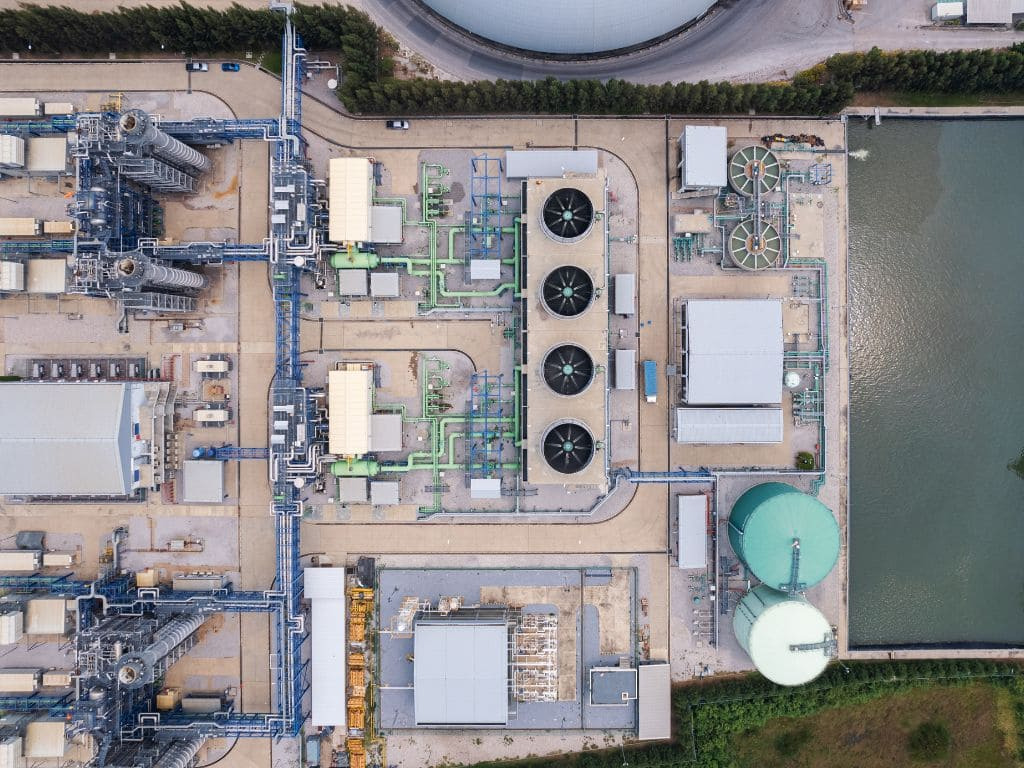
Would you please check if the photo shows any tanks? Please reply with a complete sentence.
Yes, the photo shows a tank.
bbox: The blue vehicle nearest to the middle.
[642,360,657,403]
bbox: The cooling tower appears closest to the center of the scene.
[521,176,610,487]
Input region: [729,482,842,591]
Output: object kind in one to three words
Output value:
storage tank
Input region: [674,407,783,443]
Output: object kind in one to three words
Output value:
shed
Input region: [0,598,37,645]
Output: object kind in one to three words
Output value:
house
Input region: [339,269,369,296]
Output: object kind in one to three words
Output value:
building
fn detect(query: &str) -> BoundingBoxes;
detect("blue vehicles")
[642,360,657,403]
[220,61,240,71]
